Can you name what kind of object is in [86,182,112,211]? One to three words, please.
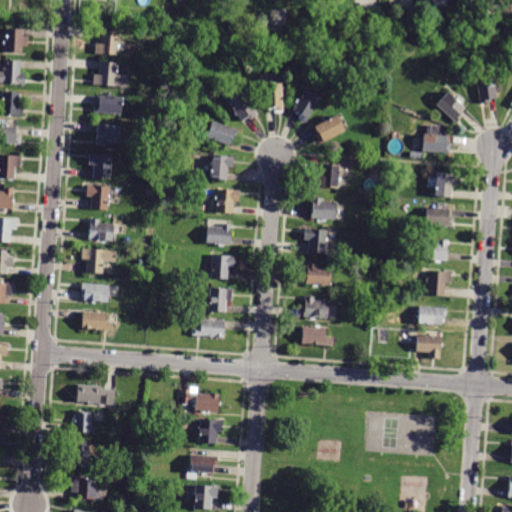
house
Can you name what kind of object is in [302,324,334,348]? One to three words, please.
house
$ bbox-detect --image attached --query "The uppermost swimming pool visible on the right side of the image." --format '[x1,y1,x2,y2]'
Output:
[388,138,404,154]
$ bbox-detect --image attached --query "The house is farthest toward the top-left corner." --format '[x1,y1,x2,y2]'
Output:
[2,28,28,53]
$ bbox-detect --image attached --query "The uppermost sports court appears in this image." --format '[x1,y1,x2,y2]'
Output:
[365,411,436,456]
